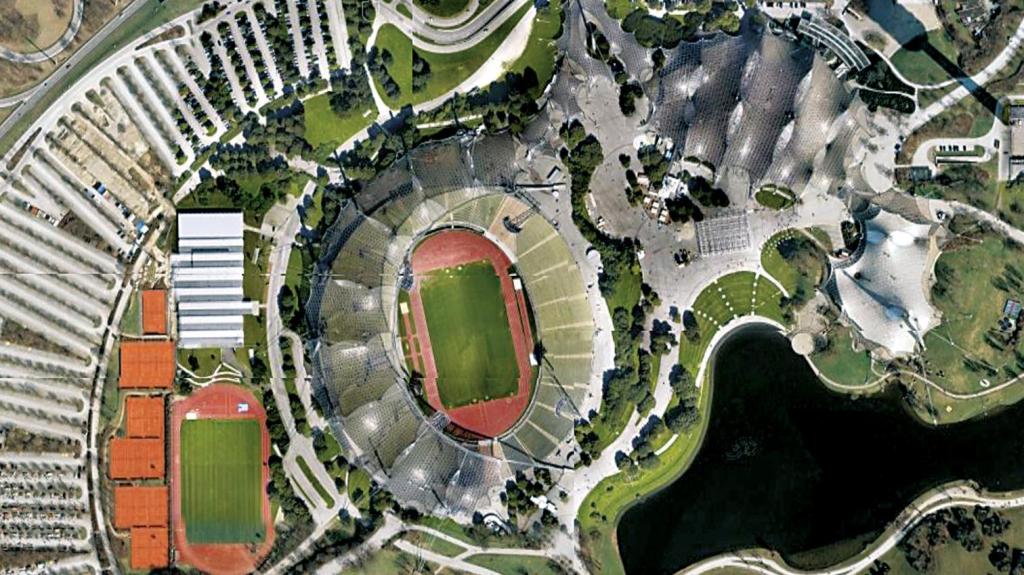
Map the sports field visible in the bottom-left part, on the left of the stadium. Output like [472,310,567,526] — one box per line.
[182,419,265,543]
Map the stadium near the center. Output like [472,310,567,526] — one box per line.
[305,131,595,516]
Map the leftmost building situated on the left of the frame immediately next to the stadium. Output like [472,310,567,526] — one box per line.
[170,212,259,348]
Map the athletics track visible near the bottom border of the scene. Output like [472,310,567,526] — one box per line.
[172,383,273,575]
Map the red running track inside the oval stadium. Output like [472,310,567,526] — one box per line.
[403,230,534,436]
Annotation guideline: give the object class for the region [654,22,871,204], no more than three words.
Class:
building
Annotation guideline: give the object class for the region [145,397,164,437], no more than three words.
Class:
tennis court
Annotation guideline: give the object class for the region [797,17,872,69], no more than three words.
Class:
building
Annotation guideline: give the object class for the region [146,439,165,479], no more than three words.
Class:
tennis court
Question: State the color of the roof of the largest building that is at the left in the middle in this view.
white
